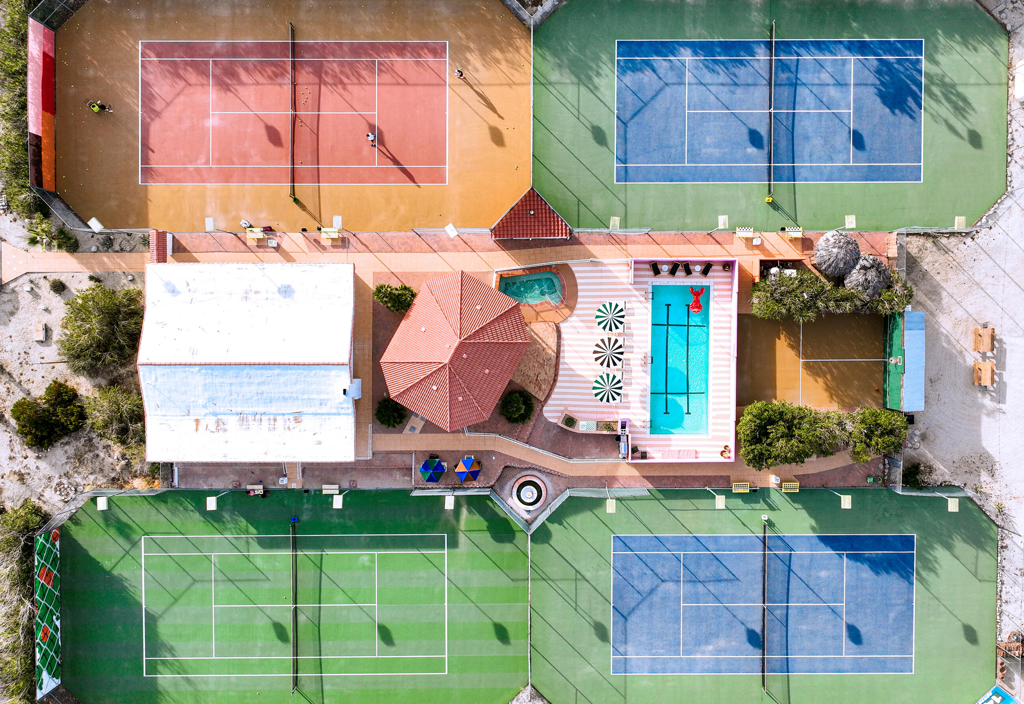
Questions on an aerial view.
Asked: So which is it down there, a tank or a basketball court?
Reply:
basketball court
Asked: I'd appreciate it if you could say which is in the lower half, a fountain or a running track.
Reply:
fountain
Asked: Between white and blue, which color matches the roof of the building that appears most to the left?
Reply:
white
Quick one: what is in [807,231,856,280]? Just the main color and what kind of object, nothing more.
gray umbrella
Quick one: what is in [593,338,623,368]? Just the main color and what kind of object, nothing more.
white umbrella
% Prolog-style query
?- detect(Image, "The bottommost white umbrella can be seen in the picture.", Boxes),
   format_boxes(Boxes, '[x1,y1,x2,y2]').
[592,373,622,403]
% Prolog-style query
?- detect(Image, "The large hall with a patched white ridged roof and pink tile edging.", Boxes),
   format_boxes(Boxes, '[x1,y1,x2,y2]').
[133,262,363,462]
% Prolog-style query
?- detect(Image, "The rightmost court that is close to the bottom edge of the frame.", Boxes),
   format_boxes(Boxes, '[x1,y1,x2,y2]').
[530,488,998,704]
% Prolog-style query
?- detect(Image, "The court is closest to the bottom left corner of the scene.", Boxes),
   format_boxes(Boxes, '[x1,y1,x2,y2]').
[61,488,529,704]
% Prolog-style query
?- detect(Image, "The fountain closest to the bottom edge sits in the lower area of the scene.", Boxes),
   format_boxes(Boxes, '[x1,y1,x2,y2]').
[511,475,547,512]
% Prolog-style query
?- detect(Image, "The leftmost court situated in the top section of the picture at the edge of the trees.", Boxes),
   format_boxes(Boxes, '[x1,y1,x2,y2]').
[55,0,531,233]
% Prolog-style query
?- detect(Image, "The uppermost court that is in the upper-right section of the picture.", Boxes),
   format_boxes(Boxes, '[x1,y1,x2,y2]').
[532,0,1008,233]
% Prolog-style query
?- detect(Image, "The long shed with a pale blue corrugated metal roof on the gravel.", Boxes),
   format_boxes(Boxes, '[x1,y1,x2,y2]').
[908,312,925,411]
